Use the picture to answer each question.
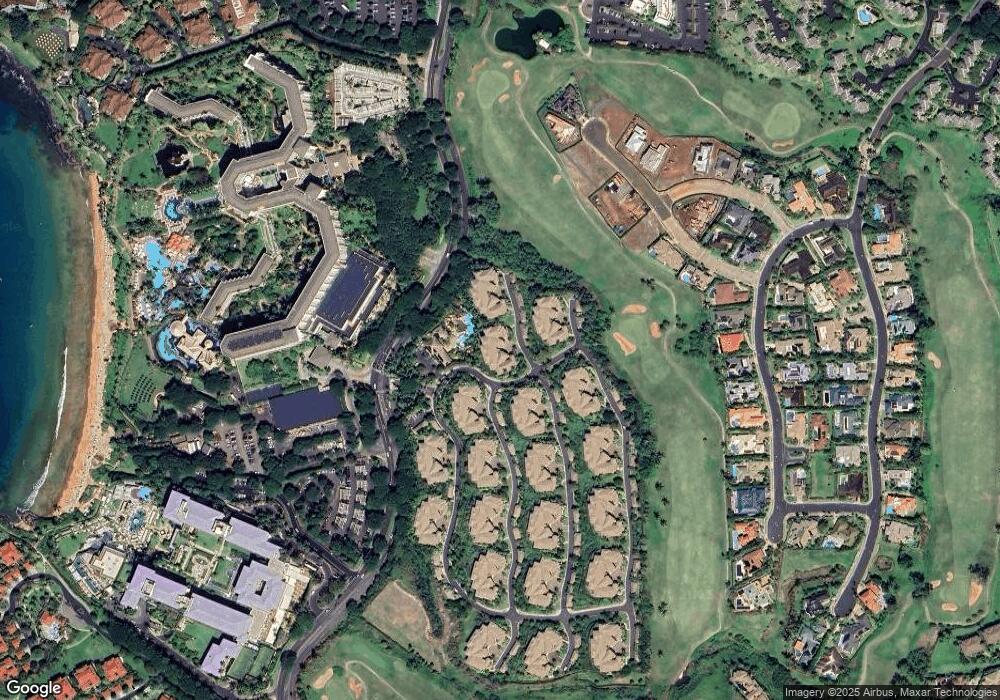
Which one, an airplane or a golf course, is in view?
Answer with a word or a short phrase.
golf course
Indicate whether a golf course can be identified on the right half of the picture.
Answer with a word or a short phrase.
Yes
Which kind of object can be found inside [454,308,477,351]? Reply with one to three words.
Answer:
swimming pool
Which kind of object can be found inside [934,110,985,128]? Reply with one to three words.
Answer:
building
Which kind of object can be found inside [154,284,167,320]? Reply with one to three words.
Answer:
swimming pool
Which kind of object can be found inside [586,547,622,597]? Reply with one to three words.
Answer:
house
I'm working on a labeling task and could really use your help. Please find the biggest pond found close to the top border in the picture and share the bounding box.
[495,9,563,59]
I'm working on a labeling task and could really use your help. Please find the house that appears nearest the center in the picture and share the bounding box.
[479,324,515,374]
